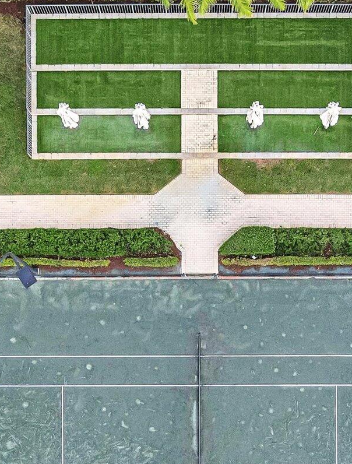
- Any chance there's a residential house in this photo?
No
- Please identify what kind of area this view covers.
sports ground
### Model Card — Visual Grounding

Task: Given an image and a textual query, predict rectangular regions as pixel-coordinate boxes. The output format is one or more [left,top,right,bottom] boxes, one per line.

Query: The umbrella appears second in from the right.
[246,100,267,132]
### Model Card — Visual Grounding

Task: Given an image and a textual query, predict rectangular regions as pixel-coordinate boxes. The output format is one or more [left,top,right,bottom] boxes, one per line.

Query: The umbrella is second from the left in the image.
[133,100,152,129]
